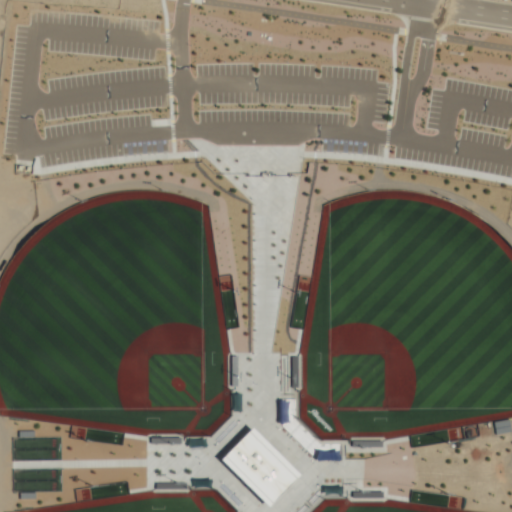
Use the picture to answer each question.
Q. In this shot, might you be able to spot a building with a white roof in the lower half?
Yes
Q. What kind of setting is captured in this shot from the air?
sports ground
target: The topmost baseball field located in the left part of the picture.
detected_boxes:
[0,190,232,438]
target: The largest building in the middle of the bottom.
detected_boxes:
[223,429,301,507]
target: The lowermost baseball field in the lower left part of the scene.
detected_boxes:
[8,490,230,512]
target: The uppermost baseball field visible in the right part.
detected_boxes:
[302,190,512,440]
